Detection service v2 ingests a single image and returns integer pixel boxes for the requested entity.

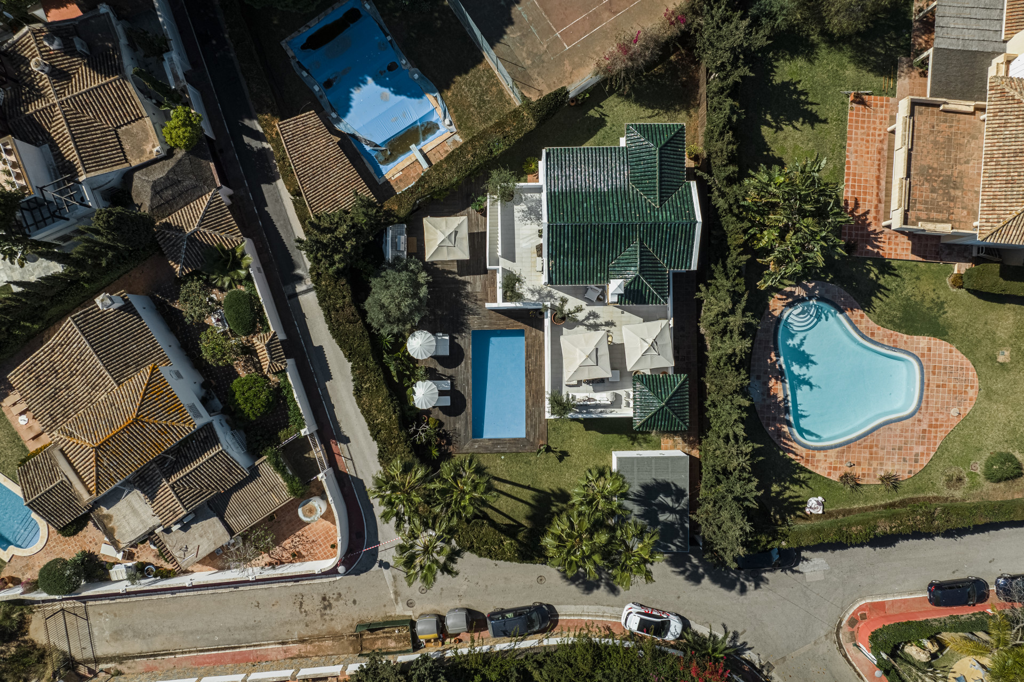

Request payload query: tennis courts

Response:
[479,0,698,97]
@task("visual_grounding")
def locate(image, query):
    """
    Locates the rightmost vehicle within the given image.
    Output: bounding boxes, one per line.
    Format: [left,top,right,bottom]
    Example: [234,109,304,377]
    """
[988,572,1024,602]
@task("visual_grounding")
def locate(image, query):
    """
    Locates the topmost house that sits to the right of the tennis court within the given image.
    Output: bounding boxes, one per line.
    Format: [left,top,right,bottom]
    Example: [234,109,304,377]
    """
[878,0,1024,265]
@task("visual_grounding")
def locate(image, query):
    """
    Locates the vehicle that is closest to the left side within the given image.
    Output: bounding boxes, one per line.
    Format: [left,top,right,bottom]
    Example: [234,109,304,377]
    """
[487,599,550,635]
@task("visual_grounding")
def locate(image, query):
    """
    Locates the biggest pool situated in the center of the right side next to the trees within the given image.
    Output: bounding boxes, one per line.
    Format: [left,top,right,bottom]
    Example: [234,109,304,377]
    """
[777,297,926,448]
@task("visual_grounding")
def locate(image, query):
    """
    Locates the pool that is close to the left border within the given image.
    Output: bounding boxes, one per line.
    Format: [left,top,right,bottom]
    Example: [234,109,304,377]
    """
[0,476,43,558]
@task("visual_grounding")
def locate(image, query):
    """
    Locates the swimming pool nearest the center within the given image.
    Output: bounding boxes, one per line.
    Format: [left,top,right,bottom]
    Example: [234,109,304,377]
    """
[471,329,526,439]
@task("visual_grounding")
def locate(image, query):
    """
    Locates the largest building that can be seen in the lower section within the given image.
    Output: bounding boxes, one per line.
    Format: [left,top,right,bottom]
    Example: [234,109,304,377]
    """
[6,287,295,571]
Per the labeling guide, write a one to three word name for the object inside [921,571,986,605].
car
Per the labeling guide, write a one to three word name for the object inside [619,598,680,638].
car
